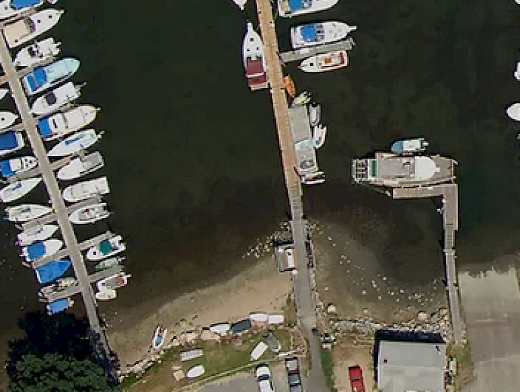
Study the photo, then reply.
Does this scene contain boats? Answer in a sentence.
Yes, there's a boat here.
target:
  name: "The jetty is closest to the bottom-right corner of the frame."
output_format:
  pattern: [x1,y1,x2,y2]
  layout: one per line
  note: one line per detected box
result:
[384,160,461,344]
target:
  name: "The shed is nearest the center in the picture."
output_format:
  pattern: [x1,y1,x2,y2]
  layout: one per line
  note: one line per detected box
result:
[274,244,294,275]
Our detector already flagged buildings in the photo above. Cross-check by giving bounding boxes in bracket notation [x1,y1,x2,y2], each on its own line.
[274,244,294,275]
[376,336,446,391]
